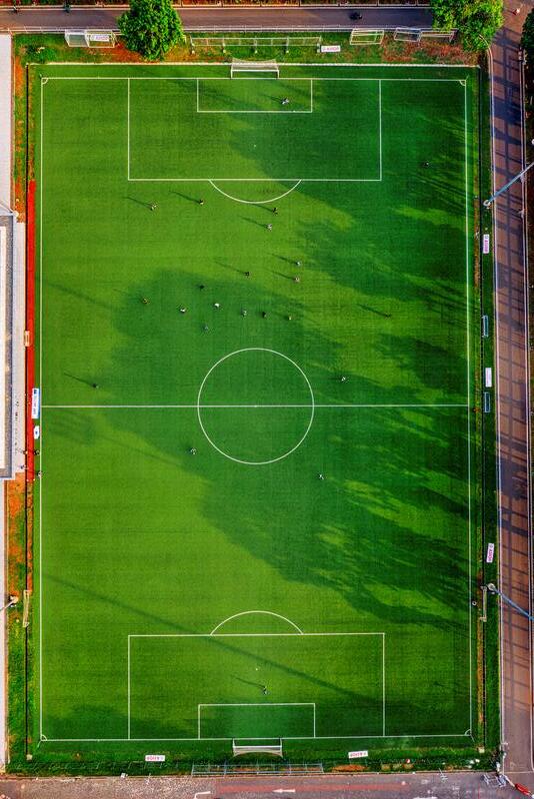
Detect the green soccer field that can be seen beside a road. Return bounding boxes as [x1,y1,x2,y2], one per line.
[27,62,479,749]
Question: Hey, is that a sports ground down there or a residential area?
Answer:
sports ground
